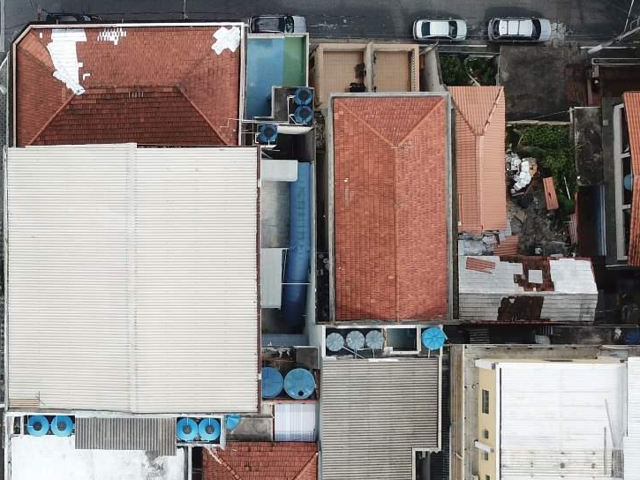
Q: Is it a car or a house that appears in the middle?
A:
house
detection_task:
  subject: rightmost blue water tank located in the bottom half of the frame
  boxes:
[420,327,446,351]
